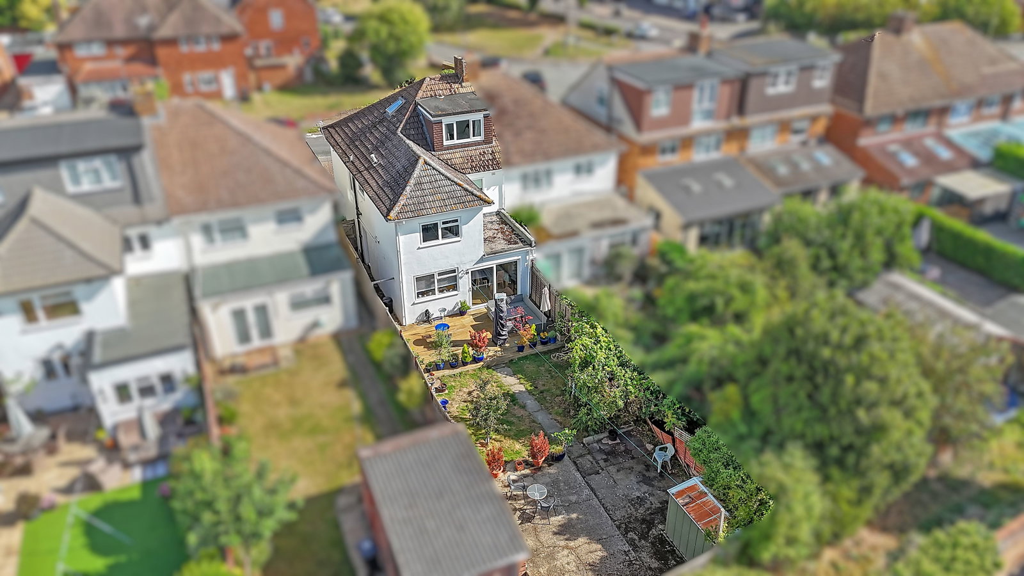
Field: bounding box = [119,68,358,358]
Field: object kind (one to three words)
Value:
house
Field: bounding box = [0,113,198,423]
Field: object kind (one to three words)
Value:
house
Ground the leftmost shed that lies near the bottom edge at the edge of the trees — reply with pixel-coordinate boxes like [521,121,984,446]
[355,423,534,576]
